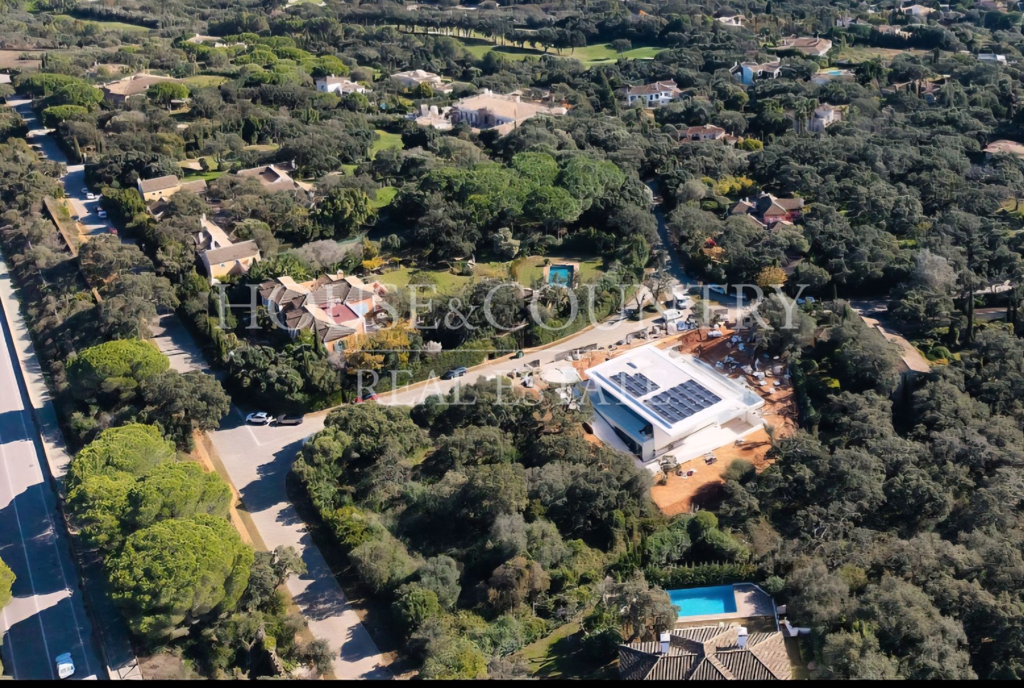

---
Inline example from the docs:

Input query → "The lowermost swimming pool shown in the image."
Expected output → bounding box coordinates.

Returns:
[660,583,775,631]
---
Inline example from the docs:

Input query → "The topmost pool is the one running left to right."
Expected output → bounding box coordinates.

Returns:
[812,69,853,84]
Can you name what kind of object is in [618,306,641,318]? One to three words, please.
vehicle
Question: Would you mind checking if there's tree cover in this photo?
Yes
